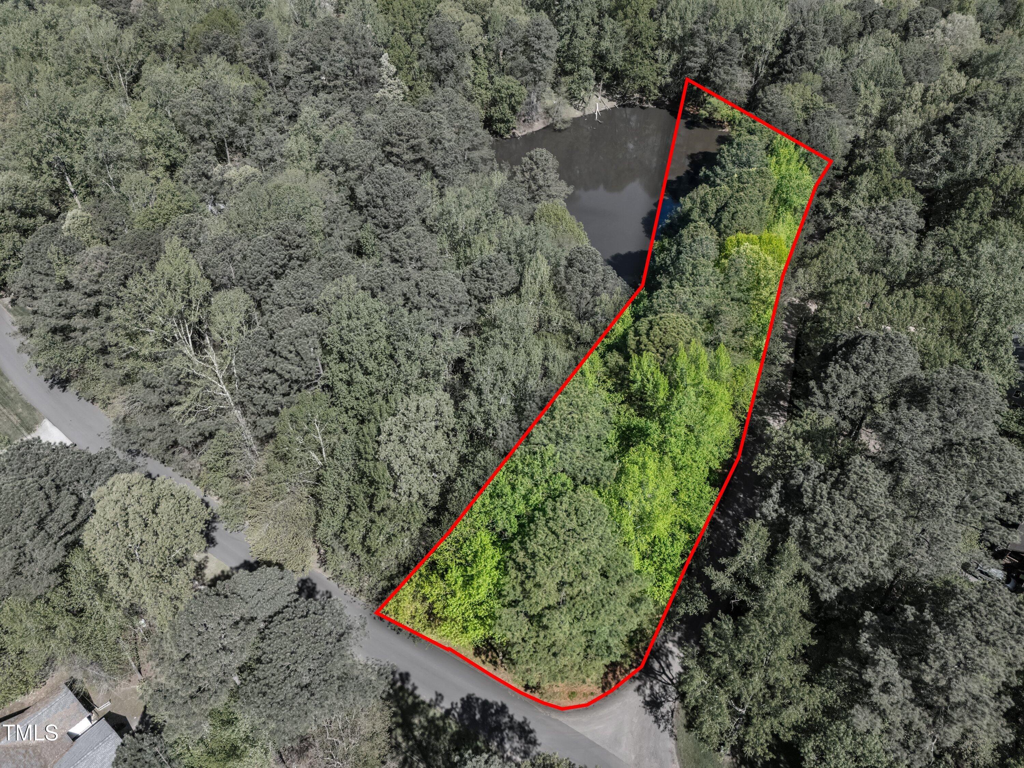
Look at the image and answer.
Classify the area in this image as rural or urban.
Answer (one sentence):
The land in this view is best described as rural.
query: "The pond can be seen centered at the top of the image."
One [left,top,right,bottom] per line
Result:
[490,107,731,307]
